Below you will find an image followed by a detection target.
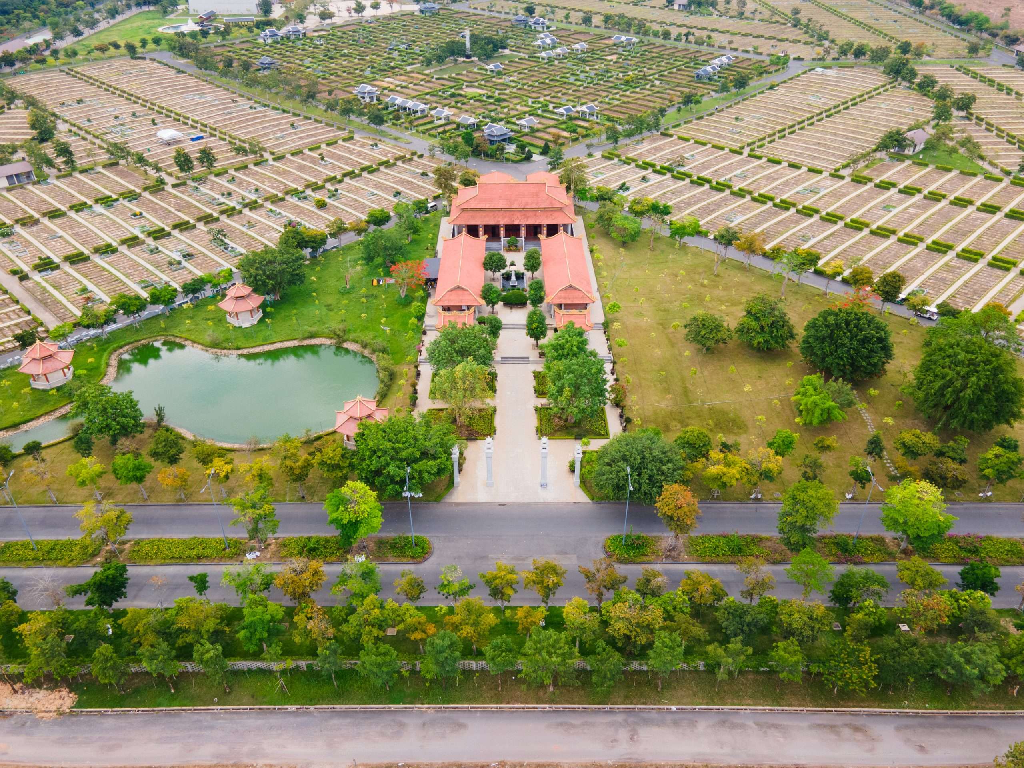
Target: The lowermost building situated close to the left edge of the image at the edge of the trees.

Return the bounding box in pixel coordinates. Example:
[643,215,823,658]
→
[10,334,78,385]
